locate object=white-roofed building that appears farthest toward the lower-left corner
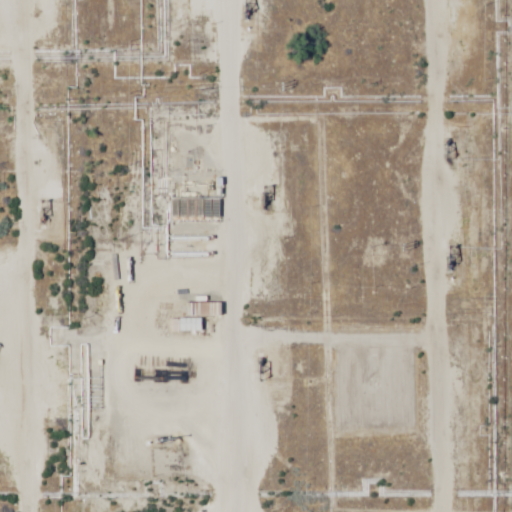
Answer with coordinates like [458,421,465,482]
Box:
[171,318,202,335]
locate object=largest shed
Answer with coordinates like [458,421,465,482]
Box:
[172,198,220,220]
